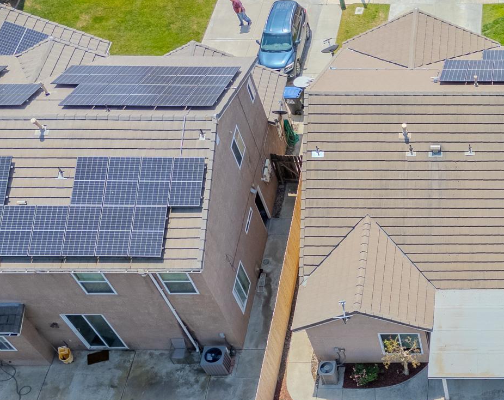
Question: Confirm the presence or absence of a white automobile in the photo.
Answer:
No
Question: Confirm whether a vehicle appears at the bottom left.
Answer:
No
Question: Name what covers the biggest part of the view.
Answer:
buildings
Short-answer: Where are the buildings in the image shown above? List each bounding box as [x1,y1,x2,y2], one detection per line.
[290,8,504,400]
[0,1,294,369]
